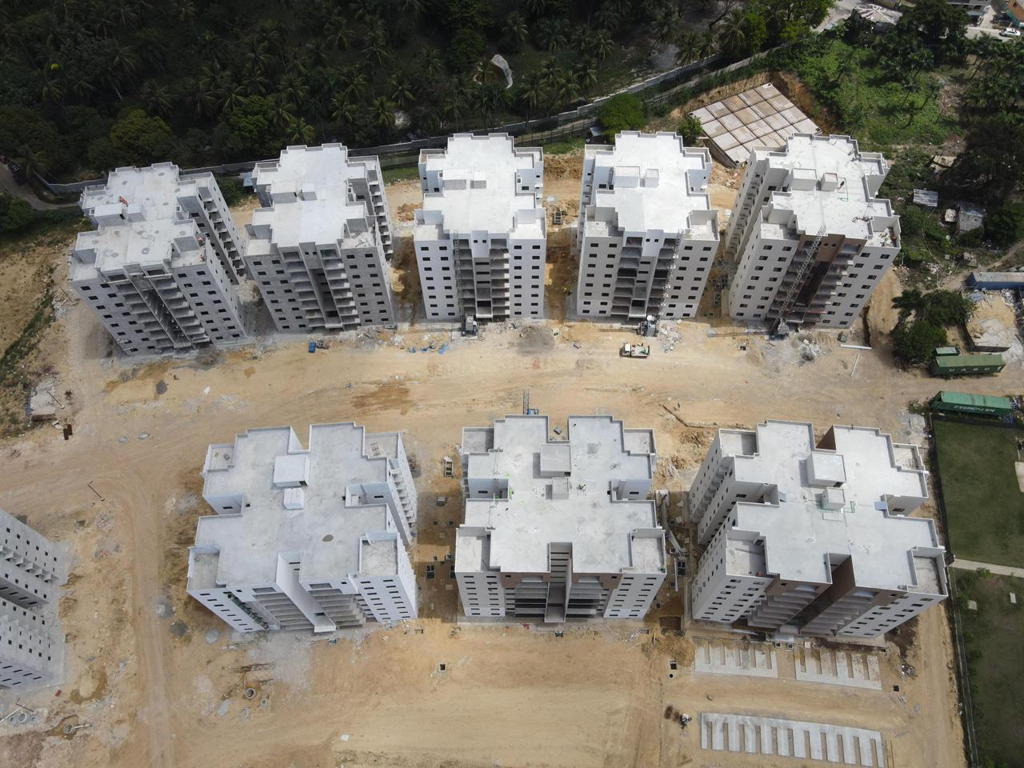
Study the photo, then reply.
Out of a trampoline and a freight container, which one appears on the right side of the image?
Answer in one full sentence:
What appears on the right side of the image is a freight container.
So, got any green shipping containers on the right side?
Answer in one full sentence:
Yes, a green shipping container shows up on the right side.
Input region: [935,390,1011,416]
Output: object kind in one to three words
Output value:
shipping container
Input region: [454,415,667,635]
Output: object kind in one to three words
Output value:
building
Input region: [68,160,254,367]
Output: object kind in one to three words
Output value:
building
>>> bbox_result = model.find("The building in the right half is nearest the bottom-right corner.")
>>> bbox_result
[684,421,951,654]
